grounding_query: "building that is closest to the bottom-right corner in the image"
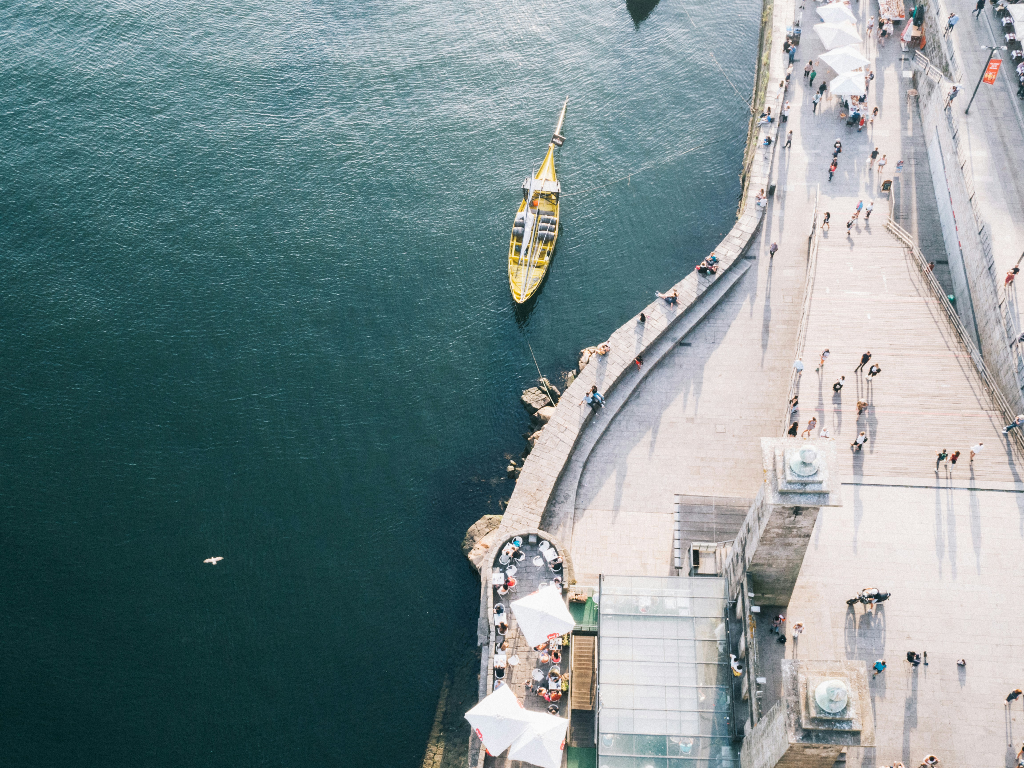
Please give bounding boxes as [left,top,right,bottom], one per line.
[592,569,740,768]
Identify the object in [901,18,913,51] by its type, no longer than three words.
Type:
umbrella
